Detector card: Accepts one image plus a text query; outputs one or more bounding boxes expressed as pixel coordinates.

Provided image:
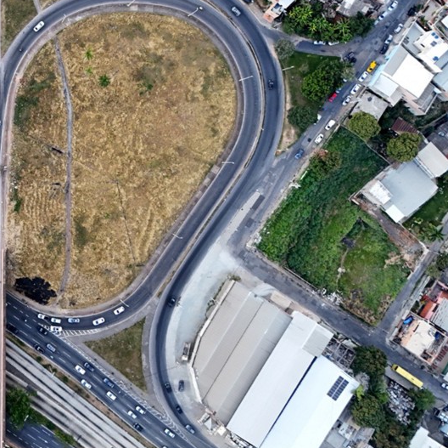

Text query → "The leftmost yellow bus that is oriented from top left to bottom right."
[392,363,429,391]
